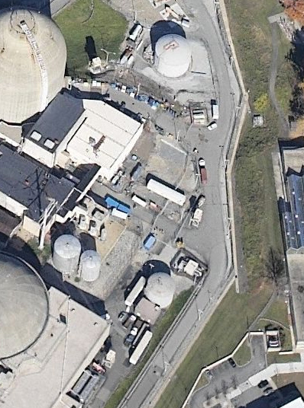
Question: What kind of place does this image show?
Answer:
industrial area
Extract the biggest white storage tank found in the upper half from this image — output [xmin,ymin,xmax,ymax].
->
[154,35,193,79]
